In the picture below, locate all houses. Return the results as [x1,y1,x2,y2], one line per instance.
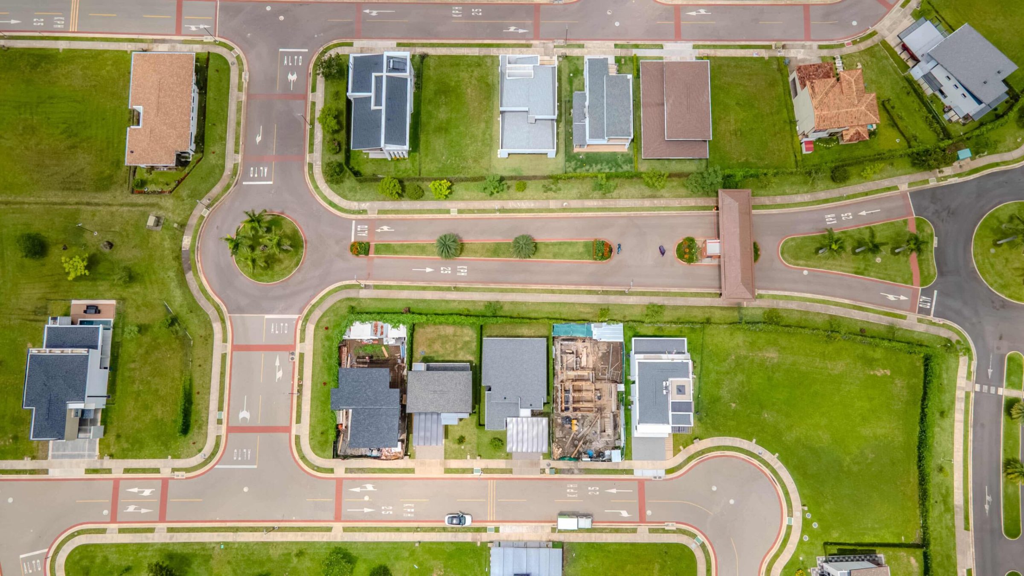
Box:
[125,52,200,192]
[482,337,548,452]
[330,368,402,448]
[791,62,880,145]
[890,17,1019,125]
[573,57,633,152]
[498,55,557,160]
[640,61,711,161]
[406,363,472,446]
[490,538,562,576]
[23,300,118,440]
[627,338,693,457]
[811,554,890,576]
[347,52,413,161]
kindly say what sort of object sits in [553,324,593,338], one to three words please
shed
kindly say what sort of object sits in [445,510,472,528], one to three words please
car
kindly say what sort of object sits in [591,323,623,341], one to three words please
shed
